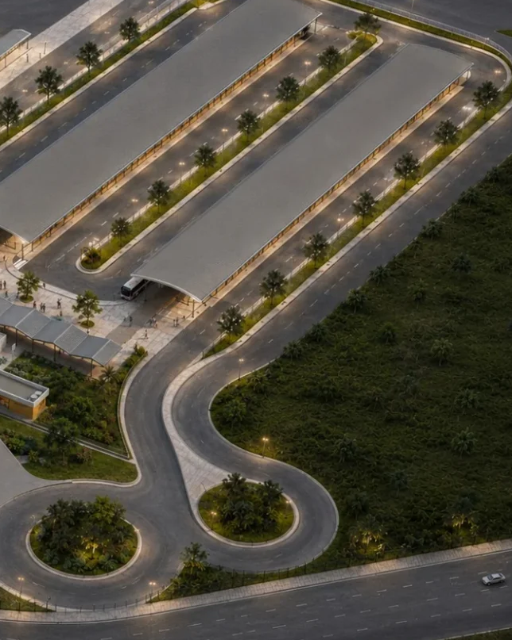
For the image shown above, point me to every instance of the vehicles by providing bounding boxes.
[477,570,508,585]
[124,277,163,305]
